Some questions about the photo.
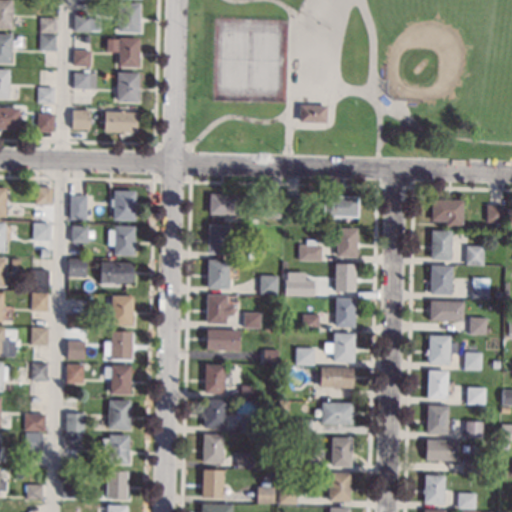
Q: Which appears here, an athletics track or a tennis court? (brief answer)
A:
tennis court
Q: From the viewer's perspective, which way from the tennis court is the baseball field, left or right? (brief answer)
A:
right of it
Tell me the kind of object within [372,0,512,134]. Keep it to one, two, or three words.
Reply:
baseball field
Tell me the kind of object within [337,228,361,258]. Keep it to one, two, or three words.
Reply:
house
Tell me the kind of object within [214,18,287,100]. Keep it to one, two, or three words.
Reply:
tennis court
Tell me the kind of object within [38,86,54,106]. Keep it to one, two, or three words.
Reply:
building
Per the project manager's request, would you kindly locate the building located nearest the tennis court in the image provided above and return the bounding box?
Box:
[300,103,328,122]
